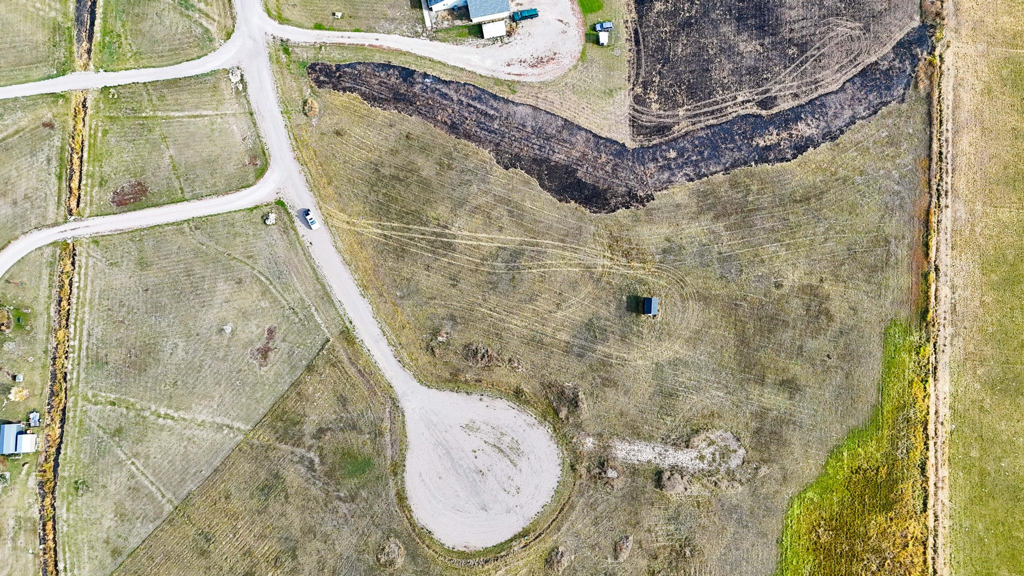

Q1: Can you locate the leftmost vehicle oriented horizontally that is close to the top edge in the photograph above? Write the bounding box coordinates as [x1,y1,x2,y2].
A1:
[514,7,540,20]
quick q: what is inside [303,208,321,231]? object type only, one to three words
vehicle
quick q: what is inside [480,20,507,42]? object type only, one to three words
shed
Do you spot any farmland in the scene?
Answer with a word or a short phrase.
Yes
